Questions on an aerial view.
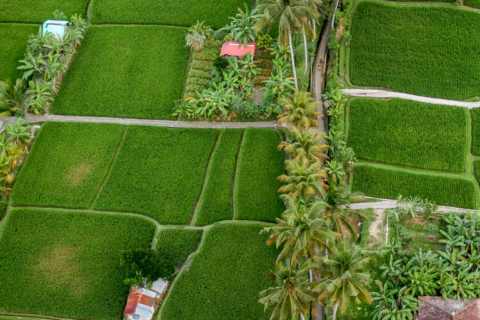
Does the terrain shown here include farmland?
Yes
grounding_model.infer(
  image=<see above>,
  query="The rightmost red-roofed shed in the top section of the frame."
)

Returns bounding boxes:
[221,41,256,65]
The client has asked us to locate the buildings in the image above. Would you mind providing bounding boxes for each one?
[43,20,68,47]
[221,41,256,65]
[419,295,480,320]
[124,287,161,320]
